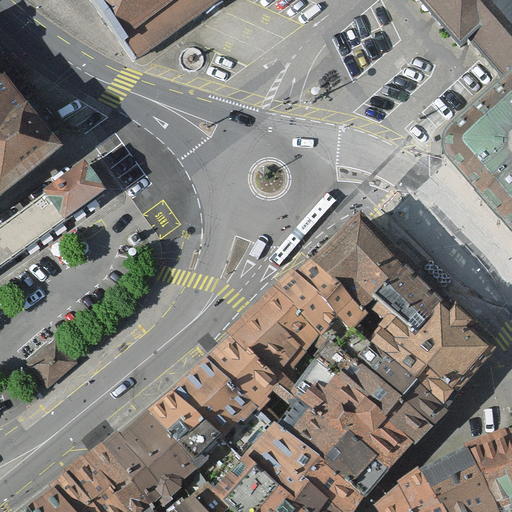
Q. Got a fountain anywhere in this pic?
Yes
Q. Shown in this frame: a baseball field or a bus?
bus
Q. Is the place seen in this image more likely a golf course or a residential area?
residential area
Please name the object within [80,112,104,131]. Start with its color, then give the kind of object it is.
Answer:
black car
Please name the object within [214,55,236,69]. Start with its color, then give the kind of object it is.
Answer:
white car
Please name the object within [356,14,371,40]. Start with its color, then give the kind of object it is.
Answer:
gray vehicle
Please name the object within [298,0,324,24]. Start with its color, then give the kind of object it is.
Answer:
white vehicle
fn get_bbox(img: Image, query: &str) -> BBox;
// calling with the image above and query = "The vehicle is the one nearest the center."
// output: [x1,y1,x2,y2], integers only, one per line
[248,234,269,260]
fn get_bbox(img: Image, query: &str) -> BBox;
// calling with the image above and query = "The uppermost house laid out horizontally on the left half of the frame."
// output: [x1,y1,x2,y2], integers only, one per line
[105,0,178,30]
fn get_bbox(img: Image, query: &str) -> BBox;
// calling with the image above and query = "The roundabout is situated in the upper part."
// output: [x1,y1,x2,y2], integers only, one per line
[248,157,292,201]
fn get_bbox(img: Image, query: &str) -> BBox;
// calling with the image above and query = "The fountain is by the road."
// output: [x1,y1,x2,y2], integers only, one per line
[174,42,208,76]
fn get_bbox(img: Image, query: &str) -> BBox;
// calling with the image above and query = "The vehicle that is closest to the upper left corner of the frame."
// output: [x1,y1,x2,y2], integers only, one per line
[56,98,82,118]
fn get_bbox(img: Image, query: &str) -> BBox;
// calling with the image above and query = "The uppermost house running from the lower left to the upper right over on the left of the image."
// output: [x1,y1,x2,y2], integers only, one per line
[129,0,224,60]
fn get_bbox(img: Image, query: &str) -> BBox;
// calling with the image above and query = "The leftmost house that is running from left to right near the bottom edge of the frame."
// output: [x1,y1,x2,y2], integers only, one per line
[21,482,84,512]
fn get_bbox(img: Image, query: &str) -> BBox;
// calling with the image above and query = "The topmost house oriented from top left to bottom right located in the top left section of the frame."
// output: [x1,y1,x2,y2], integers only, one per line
[94,0,134,58]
